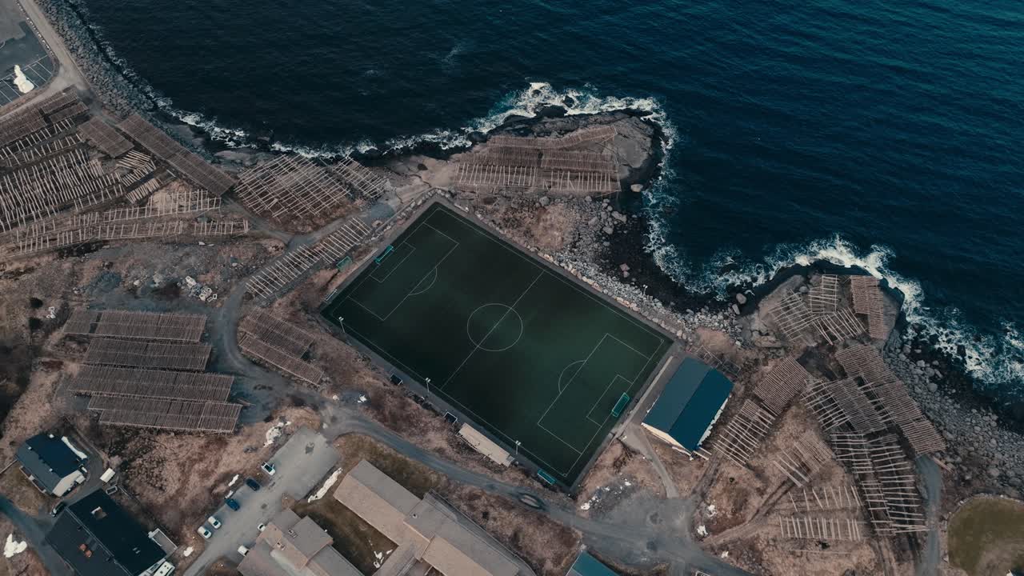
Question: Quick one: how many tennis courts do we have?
zero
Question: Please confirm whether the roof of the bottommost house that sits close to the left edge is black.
Yes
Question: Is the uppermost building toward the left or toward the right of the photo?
right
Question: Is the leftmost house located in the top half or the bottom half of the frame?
bottom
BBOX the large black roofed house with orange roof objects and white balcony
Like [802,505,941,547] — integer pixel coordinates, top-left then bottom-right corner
[44,488,181,576]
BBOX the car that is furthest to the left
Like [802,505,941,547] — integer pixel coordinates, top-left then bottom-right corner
[50,501,68,516]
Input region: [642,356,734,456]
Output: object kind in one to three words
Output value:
building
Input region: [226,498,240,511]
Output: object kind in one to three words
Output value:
vehicle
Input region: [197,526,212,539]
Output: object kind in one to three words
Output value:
vehicle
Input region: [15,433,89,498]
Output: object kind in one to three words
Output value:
house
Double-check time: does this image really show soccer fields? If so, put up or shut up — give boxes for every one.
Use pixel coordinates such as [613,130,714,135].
[302,195,684,507]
